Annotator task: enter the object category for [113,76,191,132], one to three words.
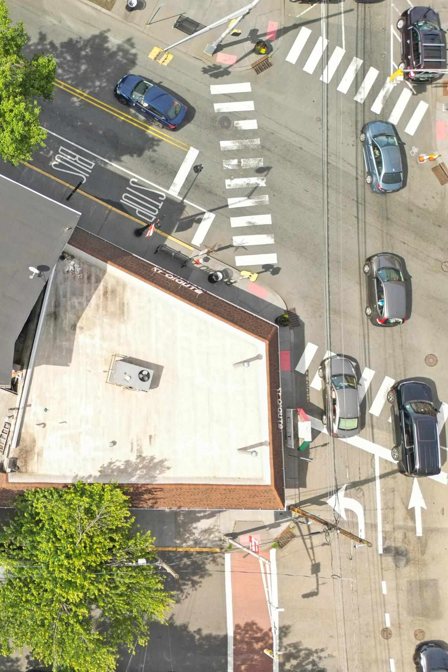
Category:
car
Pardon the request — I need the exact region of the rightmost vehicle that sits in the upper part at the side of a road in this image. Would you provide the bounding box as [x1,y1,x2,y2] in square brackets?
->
[398,7,447,84]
